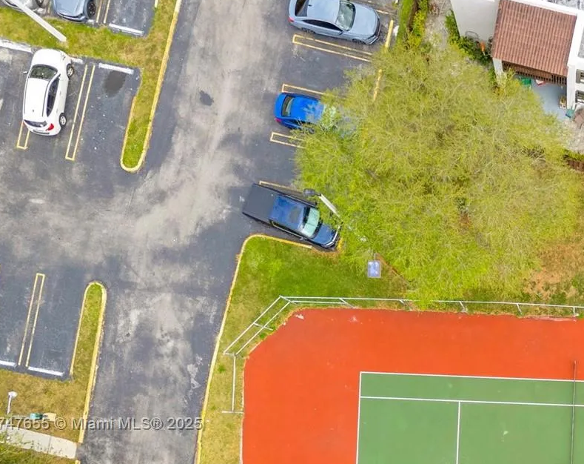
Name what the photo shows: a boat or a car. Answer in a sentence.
Looking from above, you can make out a car.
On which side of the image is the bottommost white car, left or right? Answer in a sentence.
The bottommost white car sits on the left side.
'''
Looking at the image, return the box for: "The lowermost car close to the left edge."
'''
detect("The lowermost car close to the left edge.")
[23,52,74,133]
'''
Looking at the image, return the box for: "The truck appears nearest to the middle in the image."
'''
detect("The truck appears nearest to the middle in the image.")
[239,183,345,253]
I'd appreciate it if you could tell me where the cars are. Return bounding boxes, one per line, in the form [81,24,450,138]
[56,0,96,20]
[274,93,356,138]
[289,0,379,47]
[23,52,74,133]
[5,0,40,8]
